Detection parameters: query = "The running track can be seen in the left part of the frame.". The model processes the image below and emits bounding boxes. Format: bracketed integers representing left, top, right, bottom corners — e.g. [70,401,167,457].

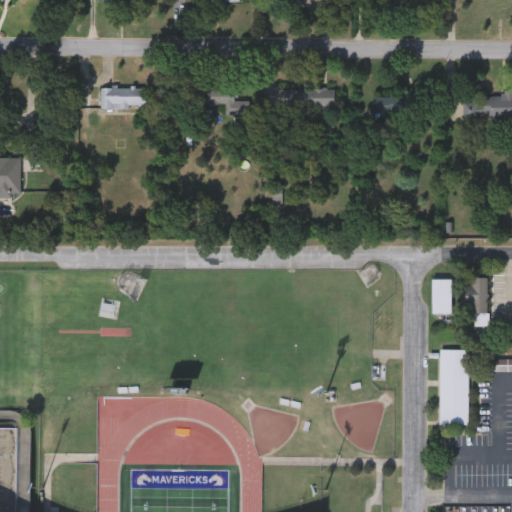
[100,396,262,512]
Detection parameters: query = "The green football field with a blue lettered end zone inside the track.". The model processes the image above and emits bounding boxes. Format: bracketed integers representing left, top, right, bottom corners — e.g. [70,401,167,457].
[122,464,240,512]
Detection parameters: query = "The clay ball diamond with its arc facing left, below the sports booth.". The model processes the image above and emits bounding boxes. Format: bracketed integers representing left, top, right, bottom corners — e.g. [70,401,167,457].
[333,394,394,453]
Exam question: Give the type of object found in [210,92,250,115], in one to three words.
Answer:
house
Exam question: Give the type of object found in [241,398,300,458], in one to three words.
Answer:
baseball field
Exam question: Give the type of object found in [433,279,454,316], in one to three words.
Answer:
building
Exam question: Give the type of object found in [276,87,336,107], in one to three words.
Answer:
house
